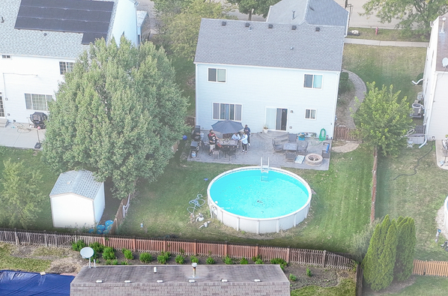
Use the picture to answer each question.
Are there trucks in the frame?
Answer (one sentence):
No, the picture doesn't show any truck.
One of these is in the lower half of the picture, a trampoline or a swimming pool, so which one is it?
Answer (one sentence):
You can see a swimming pool in the lower half of the picture.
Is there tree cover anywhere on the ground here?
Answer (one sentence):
Yes, tree cover can be seen from above here.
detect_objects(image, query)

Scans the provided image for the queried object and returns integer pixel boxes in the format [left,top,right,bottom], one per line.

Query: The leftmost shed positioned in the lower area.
[47,172,102,226]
